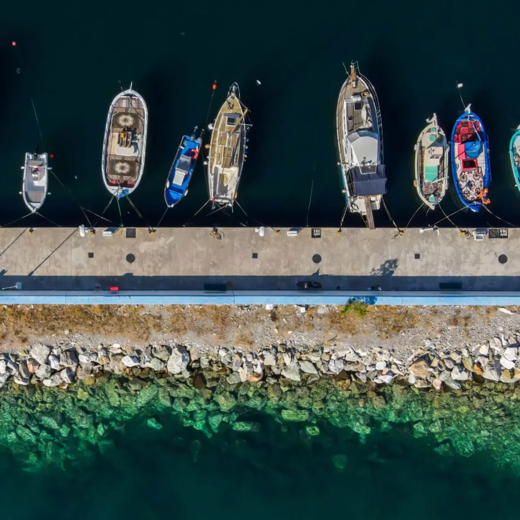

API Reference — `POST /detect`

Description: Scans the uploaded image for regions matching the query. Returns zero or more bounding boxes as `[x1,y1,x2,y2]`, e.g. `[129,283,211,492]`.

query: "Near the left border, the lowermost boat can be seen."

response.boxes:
[24,140,49,213]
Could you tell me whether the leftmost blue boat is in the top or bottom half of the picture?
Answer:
top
